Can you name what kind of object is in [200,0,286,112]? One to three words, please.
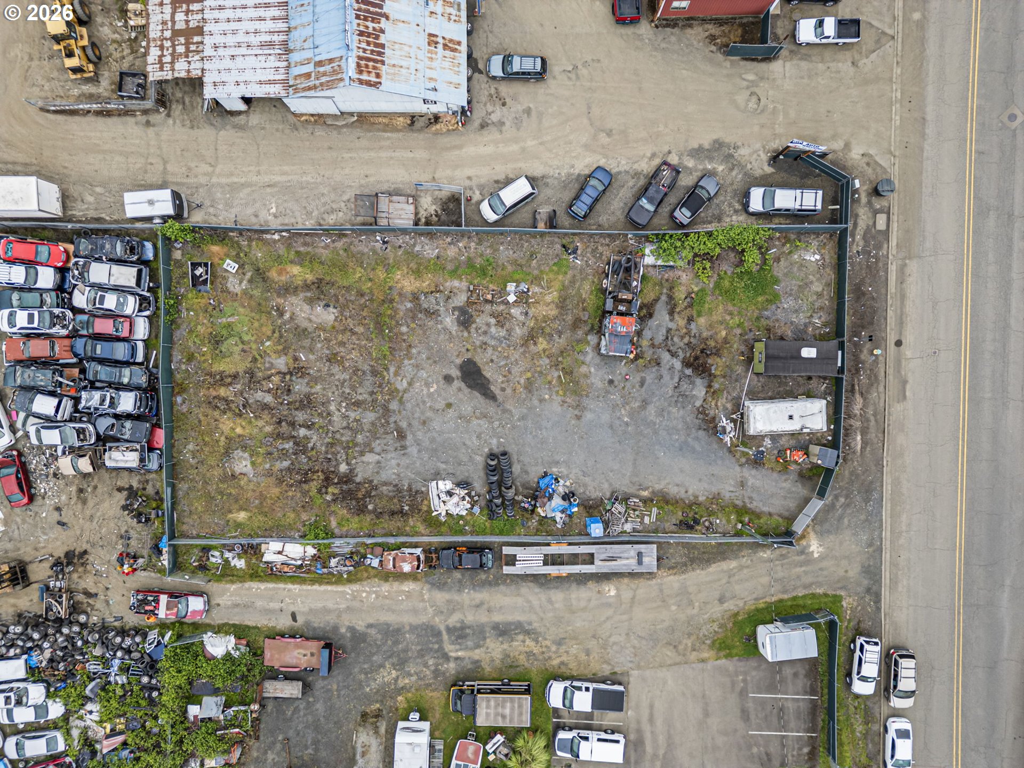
barn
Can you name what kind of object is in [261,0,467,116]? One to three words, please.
shed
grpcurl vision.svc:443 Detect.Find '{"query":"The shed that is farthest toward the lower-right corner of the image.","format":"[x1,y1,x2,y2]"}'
[804,444,840,469]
